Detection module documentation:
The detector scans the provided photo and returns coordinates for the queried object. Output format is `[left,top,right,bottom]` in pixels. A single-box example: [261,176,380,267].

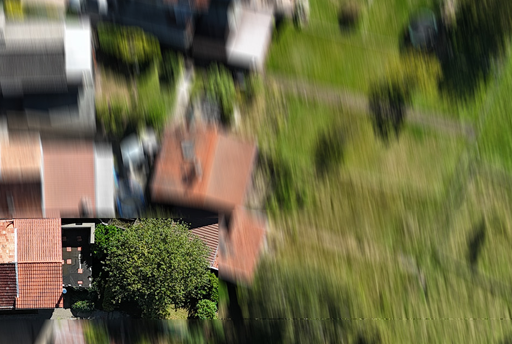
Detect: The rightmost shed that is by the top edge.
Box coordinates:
[218,6,274,76]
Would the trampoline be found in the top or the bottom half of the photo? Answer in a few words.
top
